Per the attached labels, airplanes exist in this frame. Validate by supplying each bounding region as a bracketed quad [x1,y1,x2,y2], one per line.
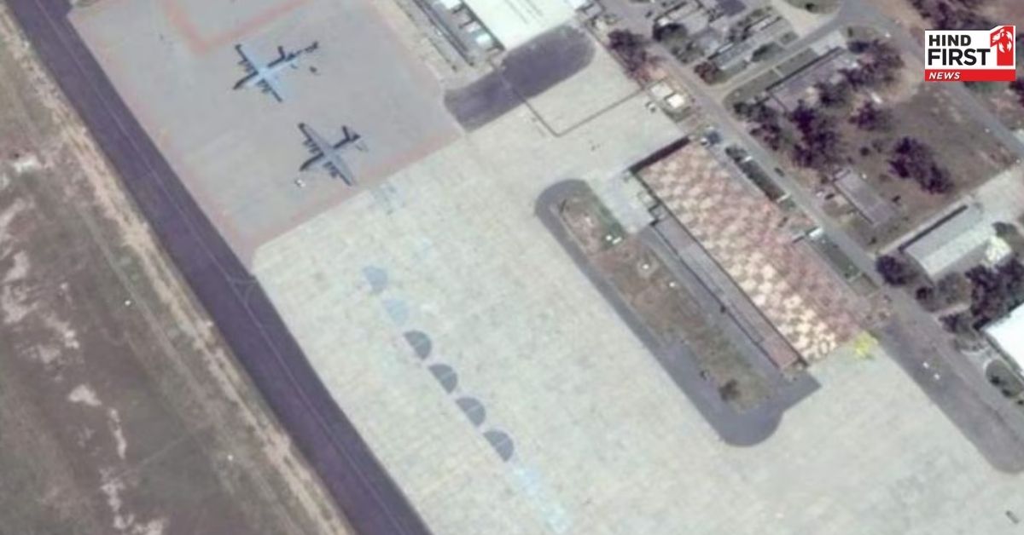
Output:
[309,121,369,187]
[242,40,301,105]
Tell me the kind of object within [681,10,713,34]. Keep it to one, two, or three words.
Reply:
house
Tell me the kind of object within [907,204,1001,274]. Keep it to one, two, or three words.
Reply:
hangar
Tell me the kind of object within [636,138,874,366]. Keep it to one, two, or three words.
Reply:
building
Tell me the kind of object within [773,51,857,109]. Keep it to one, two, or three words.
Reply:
building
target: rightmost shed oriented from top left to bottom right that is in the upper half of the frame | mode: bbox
[840,171,893,223]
